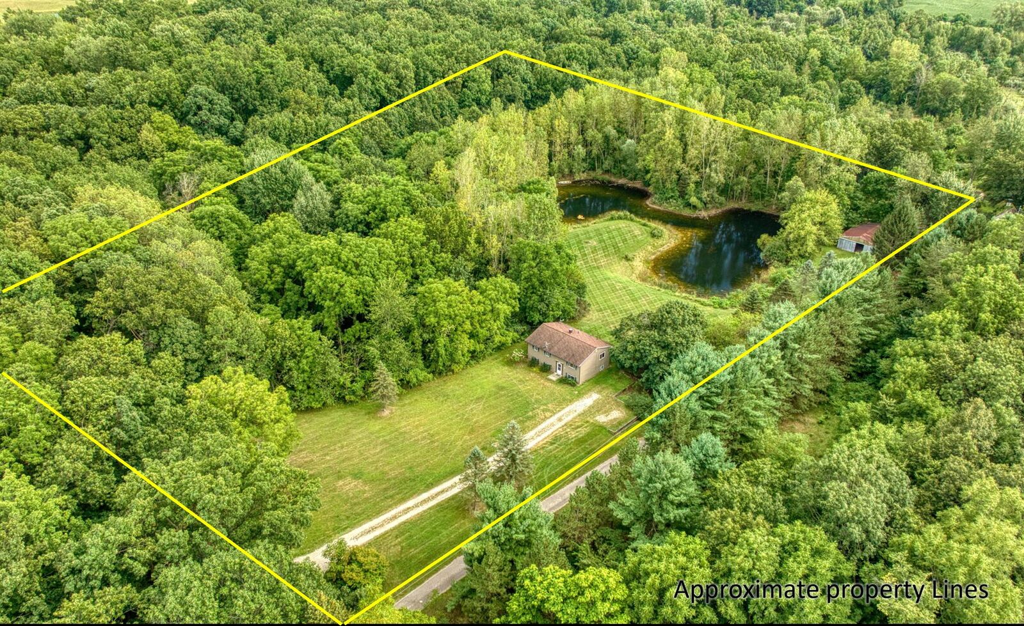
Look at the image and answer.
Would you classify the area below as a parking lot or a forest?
forest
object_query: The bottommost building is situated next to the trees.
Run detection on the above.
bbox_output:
[527,321,608,384]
